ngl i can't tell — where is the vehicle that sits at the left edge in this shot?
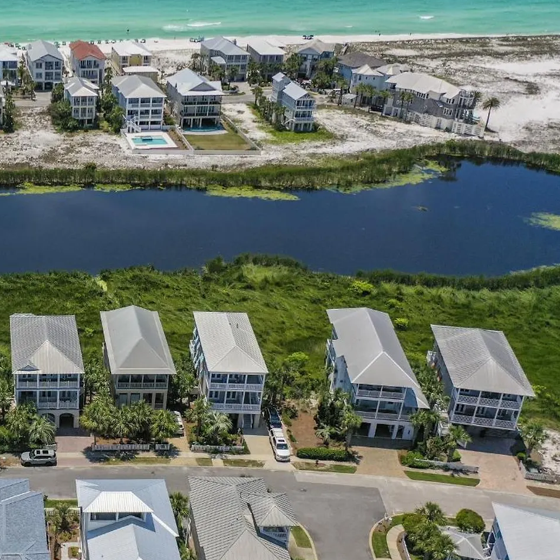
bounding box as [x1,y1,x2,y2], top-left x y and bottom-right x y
[20,447,58,467]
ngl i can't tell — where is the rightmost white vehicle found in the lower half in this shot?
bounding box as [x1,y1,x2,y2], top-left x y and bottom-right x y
[268,427,290,459]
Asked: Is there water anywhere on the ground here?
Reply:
Yes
